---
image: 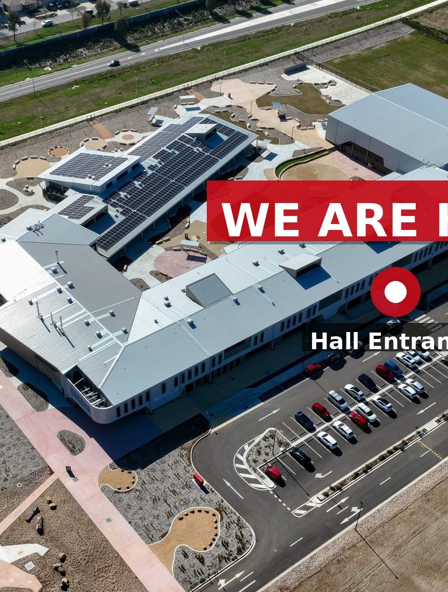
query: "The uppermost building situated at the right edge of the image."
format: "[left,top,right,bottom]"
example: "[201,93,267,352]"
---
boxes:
[329,82,448,173]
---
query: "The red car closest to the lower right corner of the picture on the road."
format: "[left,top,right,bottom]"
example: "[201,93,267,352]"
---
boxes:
[350,413,367,429]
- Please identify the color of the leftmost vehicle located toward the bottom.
red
